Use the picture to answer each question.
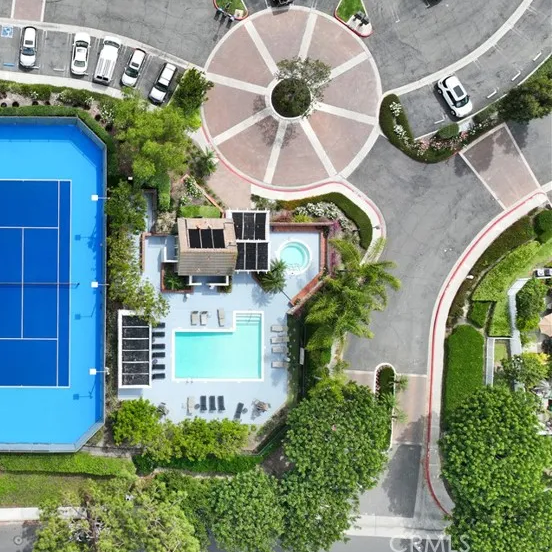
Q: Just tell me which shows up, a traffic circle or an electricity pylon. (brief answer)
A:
traffic circle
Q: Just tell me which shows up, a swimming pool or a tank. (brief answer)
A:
swimming pool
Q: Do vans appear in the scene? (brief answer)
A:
Yes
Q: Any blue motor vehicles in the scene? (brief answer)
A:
No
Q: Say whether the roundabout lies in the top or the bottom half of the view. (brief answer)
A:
top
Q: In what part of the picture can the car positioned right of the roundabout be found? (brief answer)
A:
top right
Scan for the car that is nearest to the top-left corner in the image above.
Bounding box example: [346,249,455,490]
[18,26,37,68]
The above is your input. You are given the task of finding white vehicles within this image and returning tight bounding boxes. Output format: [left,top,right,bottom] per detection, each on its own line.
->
[93,37,121,88]
[71,32,91,76]
[149,61,177,106]
[437,74,470,118]
[121,46,146,88]
[18,26,37,68]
